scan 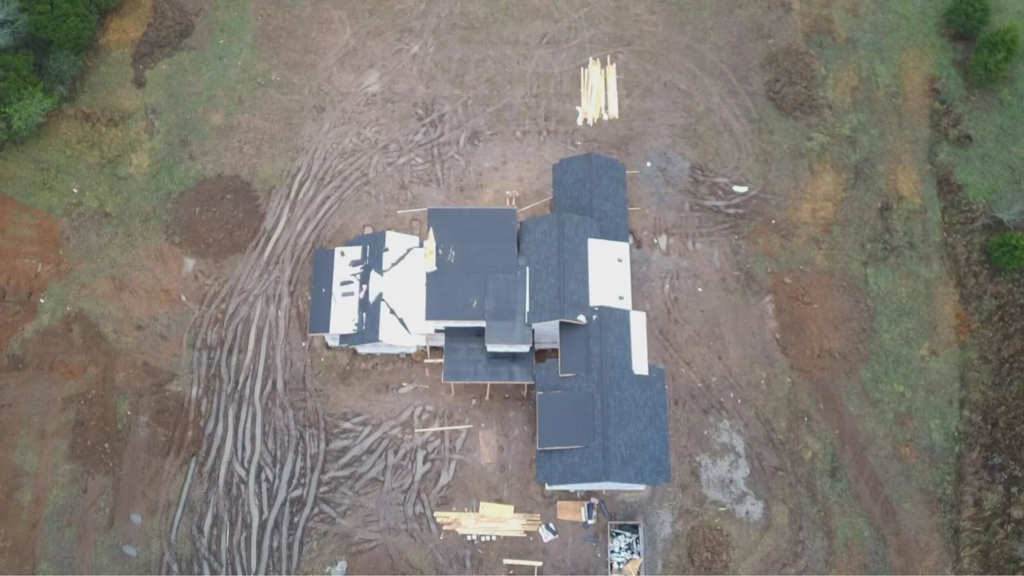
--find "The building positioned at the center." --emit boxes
[308,152,670,490]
